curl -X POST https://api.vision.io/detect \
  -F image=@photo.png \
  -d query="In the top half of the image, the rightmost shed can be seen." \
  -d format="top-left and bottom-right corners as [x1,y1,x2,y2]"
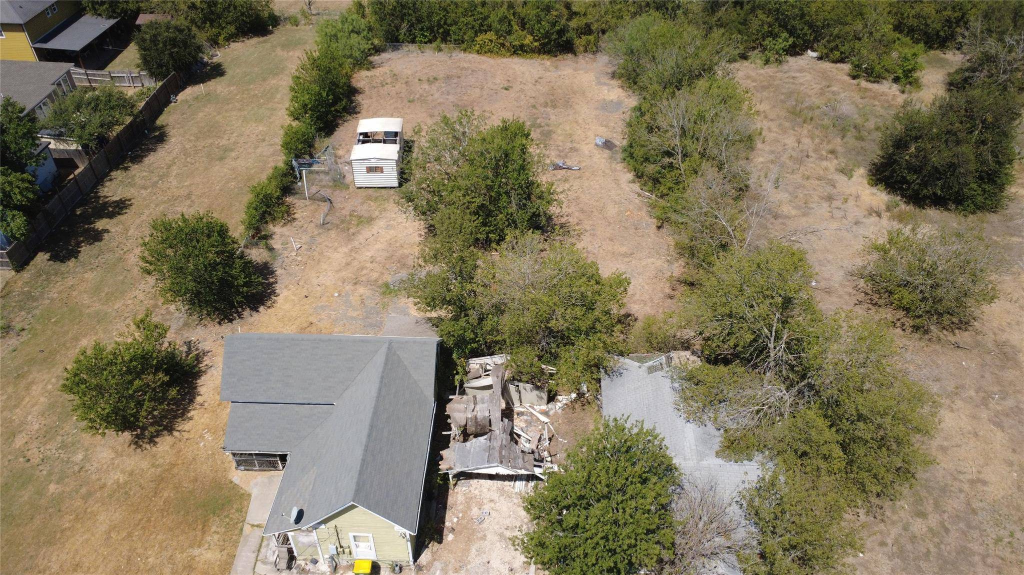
[350,117,406,188]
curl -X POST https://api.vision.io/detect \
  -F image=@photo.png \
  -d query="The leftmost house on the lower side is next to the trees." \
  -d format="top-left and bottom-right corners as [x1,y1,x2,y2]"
[218,337,447,568]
